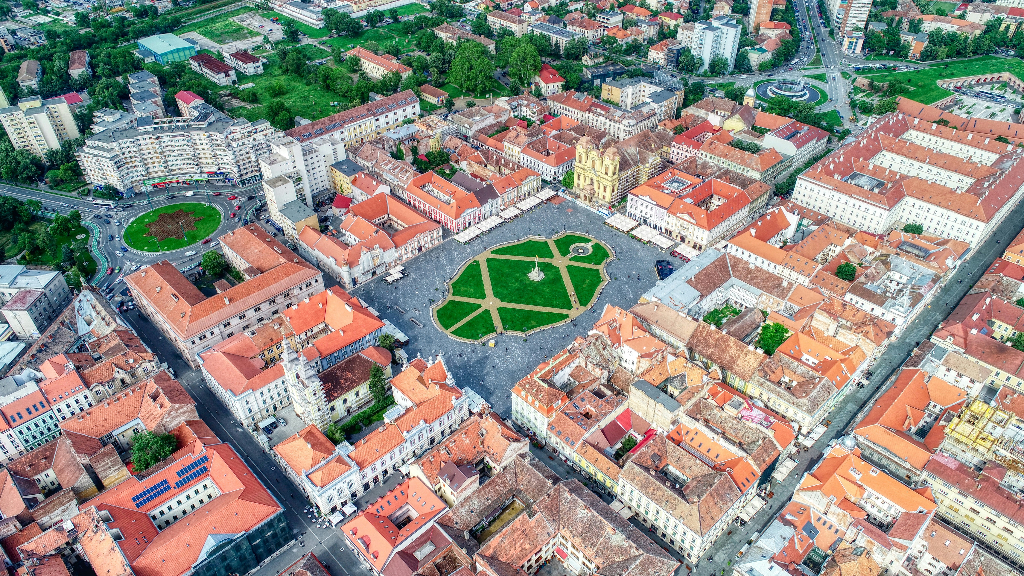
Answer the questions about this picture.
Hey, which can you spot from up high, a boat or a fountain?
fountain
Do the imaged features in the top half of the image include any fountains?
Yes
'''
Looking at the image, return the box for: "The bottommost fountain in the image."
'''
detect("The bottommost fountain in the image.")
[569,242,593,256]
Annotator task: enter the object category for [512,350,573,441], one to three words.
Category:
house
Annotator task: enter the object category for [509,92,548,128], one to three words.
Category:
house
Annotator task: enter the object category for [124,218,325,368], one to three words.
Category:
building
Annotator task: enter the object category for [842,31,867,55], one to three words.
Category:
building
